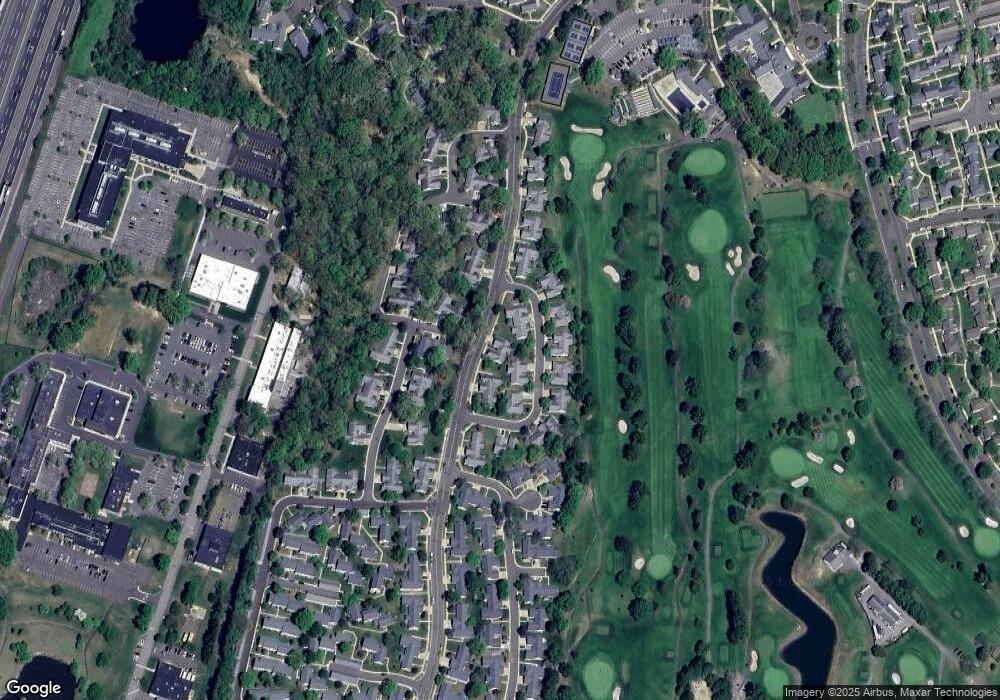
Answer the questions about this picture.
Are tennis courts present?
Yes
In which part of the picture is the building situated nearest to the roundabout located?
top right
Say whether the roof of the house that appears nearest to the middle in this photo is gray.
Yes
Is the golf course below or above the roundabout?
below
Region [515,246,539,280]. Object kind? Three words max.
house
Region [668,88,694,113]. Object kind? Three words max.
swimming pool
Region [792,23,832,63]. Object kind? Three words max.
roundabout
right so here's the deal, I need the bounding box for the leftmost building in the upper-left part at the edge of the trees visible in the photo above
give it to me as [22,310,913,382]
[79,109,190,231]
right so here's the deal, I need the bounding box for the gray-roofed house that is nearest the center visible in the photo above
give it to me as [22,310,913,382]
[487,338,512,366]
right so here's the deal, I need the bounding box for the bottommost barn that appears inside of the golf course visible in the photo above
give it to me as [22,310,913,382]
[866,592,899,626]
